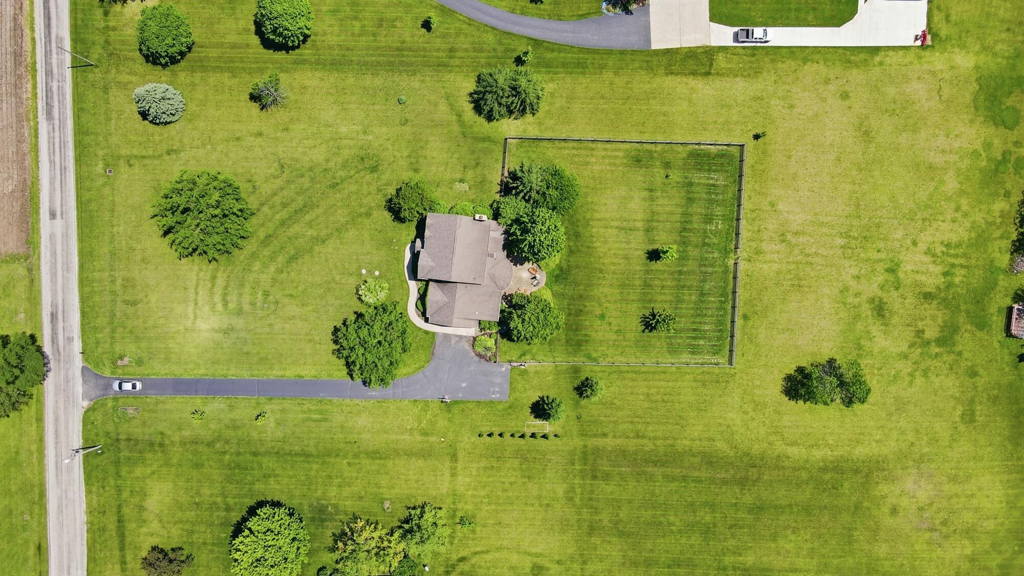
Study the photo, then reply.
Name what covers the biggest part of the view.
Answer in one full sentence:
The scene is dominated by grass.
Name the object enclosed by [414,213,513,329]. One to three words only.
house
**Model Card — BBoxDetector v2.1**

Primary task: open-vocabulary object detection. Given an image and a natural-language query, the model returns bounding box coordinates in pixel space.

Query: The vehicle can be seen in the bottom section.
[113,379,144,393]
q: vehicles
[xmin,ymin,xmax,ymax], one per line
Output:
[113,379,144,393]
[736,26,773,43]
